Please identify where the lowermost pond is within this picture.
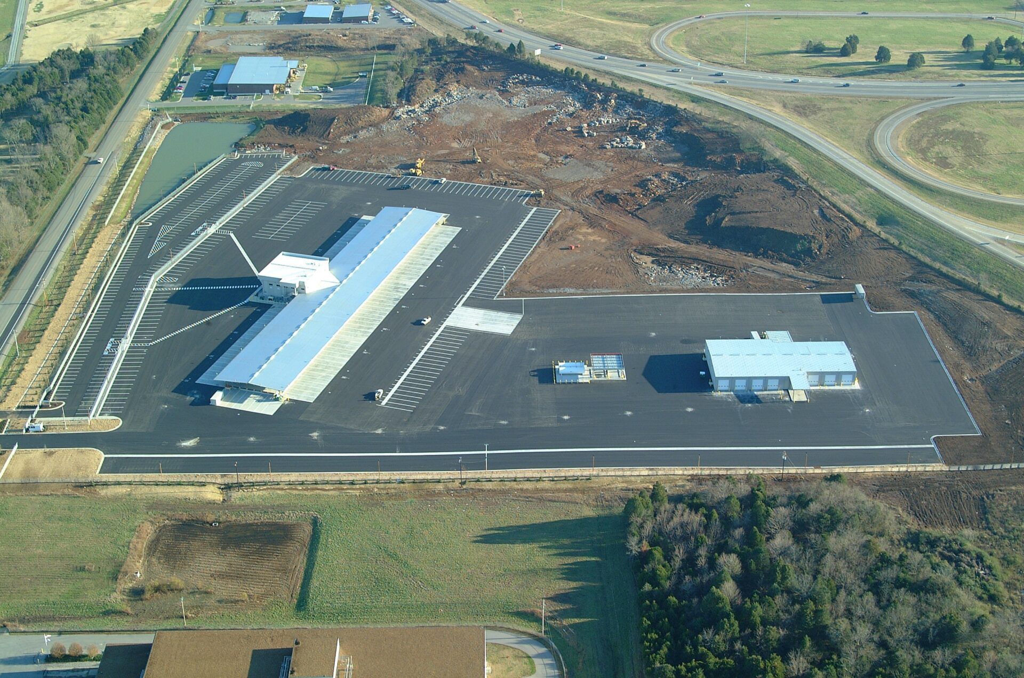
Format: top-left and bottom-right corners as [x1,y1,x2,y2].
[131,124,255,221]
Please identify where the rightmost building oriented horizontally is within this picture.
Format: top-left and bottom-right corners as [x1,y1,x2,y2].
[700,338,857,401]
